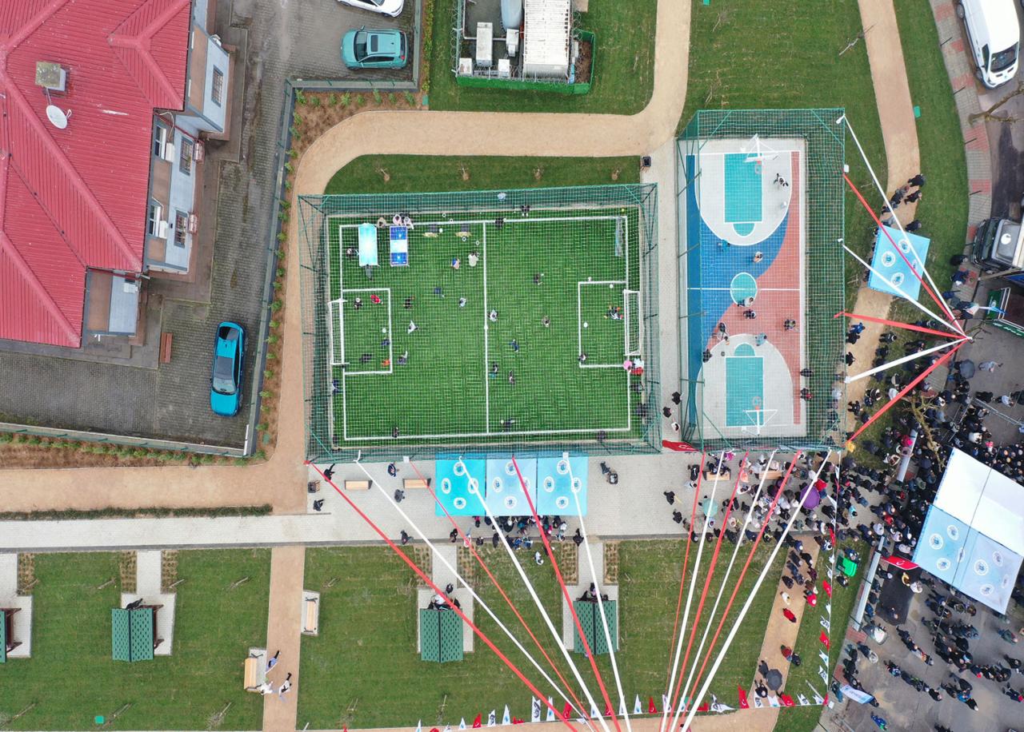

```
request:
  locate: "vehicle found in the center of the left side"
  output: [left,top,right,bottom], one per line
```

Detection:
[206,320,245,416]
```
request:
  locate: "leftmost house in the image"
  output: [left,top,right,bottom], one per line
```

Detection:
[0,0,238,350]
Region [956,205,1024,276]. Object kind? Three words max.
truck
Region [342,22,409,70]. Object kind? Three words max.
car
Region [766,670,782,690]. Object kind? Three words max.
umbrella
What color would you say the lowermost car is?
blue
